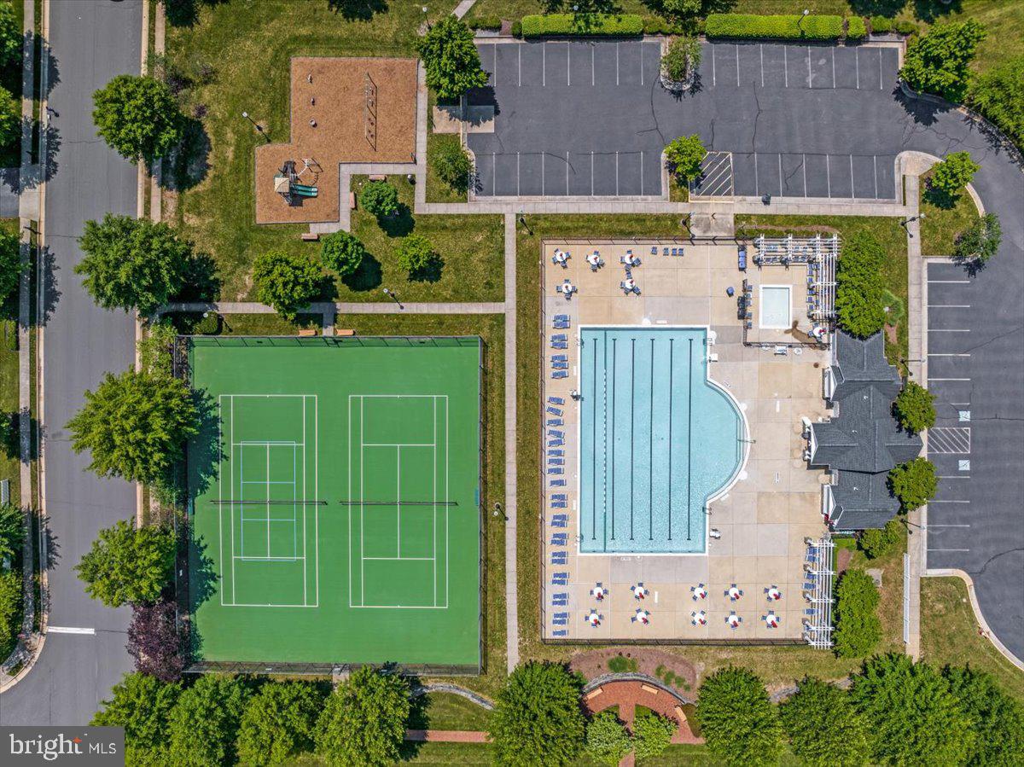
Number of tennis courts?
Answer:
2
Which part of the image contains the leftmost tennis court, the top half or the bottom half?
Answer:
bottom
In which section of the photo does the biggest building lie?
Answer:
right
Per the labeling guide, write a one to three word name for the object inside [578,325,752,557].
swimming pool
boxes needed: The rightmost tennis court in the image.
[333,338,481,664]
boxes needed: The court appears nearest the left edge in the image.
[189,338,333,664]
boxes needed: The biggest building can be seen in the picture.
[803,328,928,530]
